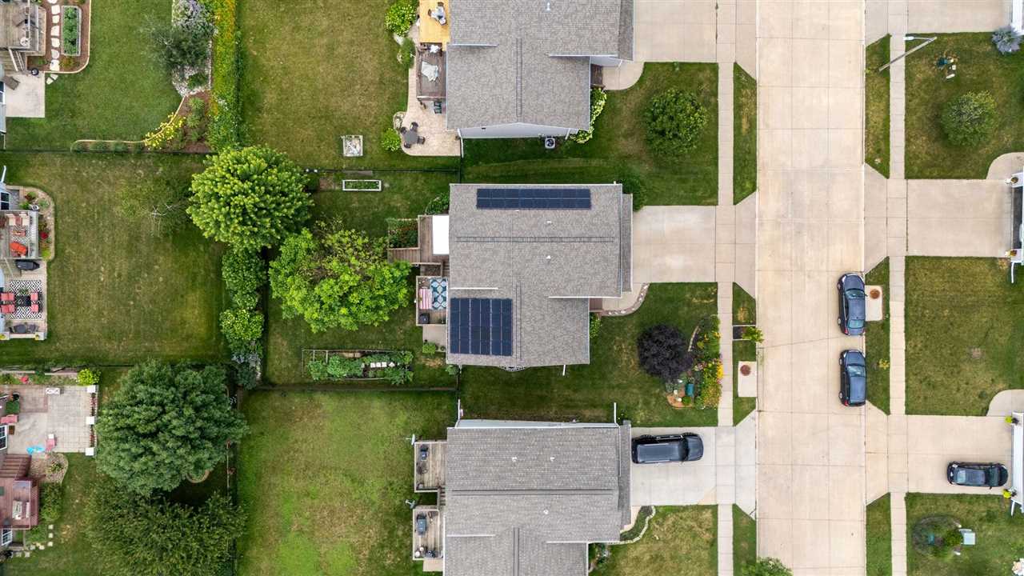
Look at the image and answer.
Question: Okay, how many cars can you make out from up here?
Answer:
four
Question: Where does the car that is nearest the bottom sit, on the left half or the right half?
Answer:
right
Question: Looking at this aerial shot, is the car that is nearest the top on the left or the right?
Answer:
right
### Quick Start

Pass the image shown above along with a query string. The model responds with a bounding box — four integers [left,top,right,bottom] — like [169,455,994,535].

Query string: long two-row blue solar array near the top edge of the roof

[477,189,591,209]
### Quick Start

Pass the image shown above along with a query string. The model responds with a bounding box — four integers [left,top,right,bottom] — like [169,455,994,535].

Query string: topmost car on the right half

[839,274,872,336]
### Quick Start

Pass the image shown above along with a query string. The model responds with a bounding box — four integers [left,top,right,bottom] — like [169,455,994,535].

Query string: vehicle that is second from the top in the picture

[840,350,873,408]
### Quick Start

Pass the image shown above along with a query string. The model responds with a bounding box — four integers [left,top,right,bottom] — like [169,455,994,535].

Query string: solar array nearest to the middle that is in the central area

[451,298,512,356]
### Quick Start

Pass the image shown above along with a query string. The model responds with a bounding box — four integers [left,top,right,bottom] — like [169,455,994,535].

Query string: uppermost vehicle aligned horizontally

[635,435,703,467]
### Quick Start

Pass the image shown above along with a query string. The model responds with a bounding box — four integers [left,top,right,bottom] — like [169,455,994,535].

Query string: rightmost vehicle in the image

[947,462,1009,491]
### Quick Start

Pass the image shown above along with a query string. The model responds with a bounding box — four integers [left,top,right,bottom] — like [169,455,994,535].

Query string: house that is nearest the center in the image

[447,180,632,376]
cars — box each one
[947,462,1009,491]
[840,350,873,408]
[635,435,703,467]
[839,274,872,336]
